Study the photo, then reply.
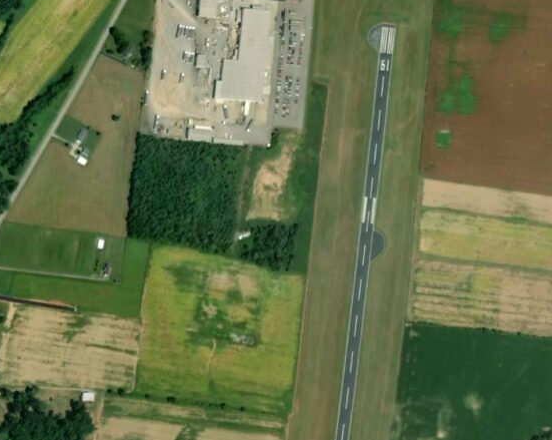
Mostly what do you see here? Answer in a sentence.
The scene is dominated by farmland.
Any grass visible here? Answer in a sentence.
Yes, grass shows up in the scene.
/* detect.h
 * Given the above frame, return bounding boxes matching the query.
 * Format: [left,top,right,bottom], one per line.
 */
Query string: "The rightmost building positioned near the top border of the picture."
[215,8,275,100]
